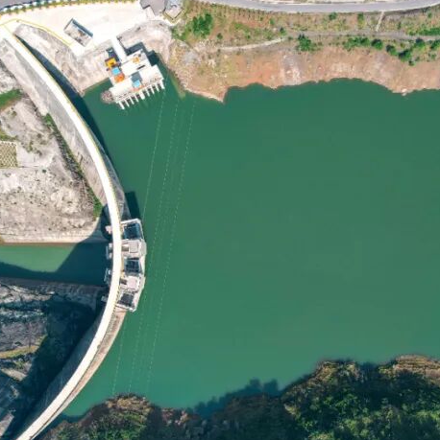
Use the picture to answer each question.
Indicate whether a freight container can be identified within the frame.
No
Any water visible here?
Yes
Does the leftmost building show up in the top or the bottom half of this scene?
top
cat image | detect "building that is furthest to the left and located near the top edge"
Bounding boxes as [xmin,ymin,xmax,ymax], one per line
[65,19,94,48]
